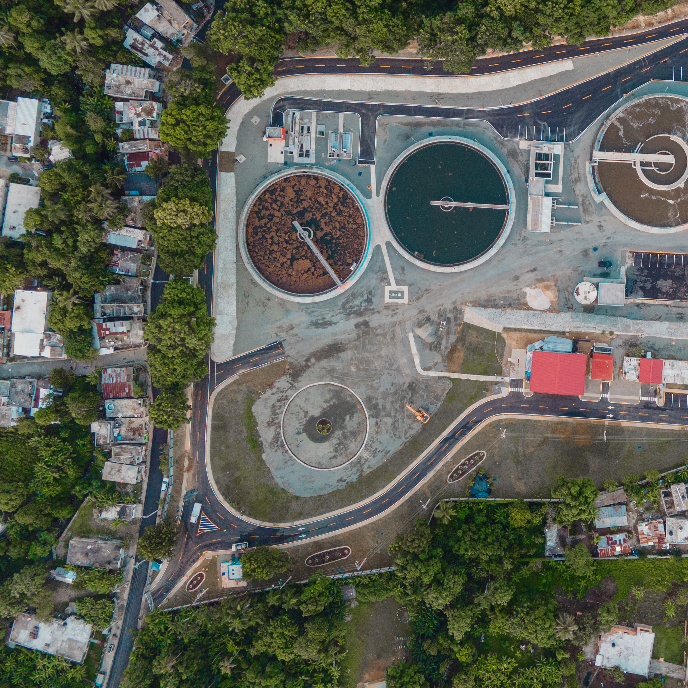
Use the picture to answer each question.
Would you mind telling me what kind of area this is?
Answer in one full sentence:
The picture captures a residential area.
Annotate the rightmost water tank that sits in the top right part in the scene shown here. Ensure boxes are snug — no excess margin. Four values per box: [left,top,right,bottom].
[586,92,688,232]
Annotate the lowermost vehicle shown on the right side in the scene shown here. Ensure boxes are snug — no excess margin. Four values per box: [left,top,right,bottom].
[405,401,432,425]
